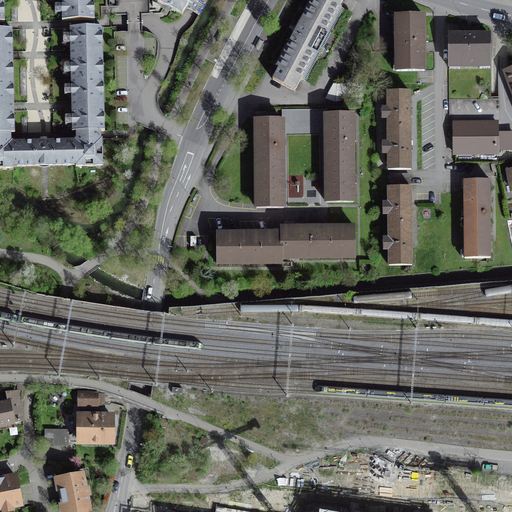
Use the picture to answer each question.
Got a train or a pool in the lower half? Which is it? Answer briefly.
train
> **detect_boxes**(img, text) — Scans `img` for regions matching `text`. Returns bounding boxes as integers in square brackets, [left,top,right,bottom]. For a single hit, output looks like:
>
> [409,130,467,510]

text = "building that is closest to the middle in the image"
[216,228,281,266]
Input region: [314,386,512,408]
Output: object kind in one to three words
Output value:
train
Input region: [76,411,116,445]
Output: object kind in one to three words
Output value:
house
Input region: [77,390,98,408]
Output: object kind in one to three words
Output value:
building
